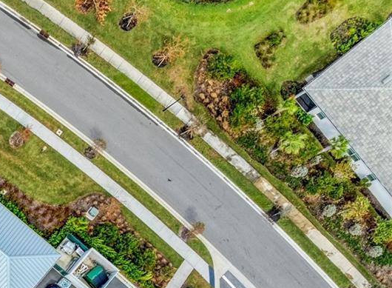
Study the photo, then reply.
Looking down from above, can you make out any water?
No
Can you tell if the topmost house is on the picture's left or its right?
right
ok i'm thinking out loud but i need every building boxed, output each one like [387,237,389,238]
[295,17,392,219]
[0,204,61,288]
